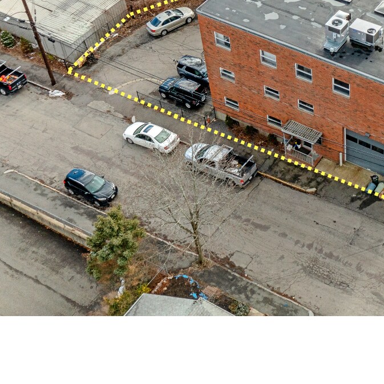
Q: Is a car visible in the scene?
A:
Yes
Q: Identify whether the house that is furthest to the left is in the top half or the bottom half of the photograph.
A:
bottom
